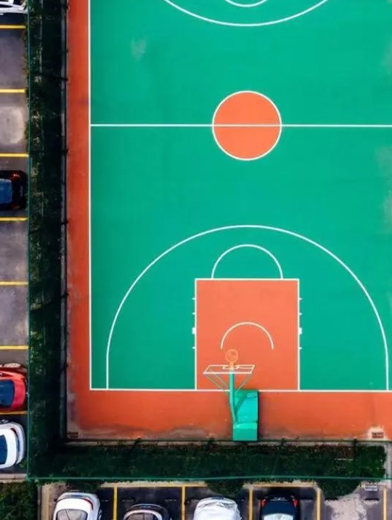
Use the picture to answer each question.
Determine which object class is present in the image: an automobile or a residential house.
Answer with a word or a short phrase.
automobile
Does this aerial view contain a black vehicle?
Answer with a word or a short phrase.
Yes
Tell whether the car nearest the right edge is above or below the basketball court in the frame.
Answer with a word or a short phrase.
below it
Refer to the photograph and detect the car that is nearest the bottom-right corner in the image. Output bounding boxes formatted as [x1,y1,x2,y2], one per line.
[258,481,301,520]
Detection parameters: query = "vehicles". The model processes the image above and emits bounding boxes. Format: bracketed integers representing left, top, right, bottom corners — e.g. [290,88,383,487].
[0,358,33,408]
[0,416,30,467]
[258,481,301,520]
[50,480,102,520]
[0,168,31,211]
[121,496,168,520]
[196,484,244,520]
